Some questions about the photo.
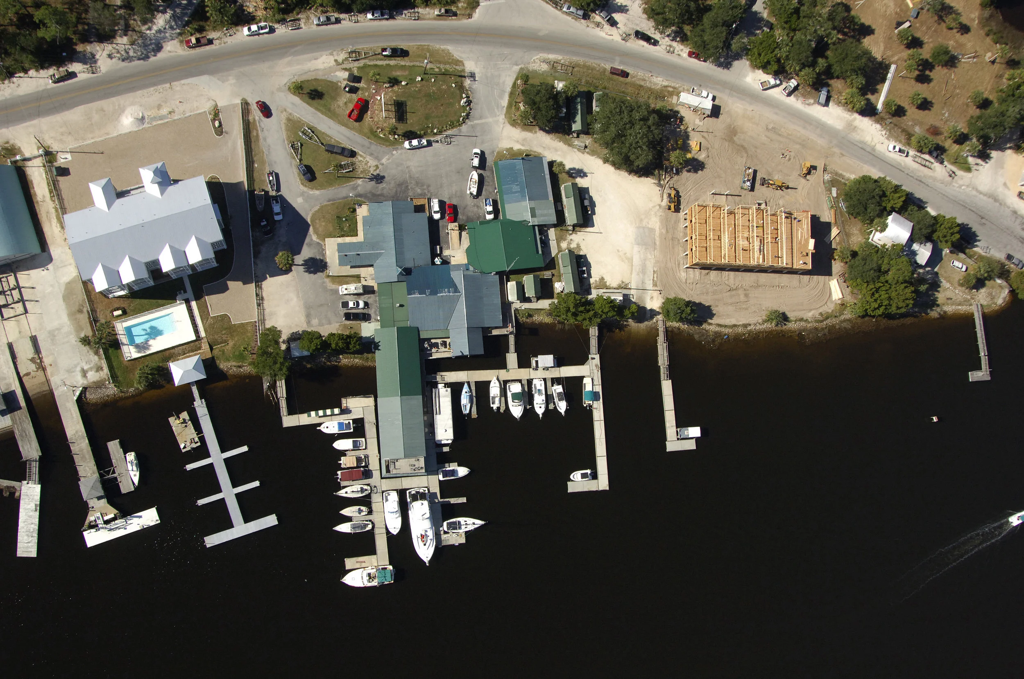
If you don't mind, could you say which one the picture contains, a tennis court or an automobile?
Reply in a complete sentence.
Of the two, only an automobile appears.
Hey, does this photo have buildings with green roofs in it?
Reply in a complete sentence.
Yes, I can see a building with a green roof in this picture.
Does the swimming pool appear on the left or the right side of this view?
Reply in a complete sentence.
The swimming pool sits on the left side.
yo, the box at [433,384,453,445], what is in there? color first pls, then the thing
white boat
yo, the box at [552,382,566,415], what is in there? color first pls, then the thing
white boat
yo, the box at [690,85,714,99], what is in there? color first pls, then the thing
white vehicle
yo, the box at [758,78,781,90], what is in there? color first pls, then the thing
white vehicle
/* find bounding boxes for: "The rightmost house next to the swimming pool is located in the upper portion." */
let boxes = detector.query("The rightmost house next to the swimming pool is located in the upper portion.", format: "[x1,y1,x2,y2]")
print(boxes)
[63,161,231,298]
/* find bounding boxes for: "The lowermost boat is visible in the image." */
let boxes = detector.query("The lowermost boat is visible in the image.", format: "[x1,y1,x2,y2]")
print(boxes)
[338,565,397,588]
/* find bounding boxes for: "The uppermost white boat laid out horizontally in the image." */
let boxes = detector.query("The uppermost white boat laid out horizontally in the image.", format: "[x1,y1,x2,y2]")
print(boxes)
[528,355,557,368]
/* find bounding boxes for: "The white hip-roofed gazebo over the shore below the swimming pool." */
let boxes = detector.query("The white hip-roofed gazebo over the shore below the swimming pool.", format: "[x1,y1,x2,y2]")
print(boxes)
[169,355,208,386]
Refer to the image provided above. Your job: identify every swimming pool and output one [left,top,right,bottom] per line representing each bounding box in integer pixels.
[115,302,196,360]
